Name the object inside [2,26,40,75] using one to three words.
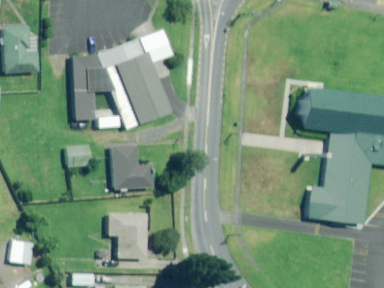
house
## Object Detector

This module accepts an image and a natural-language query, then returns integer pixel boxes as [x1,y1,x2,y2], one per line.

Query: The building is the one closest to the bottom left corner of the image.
[6,239,34,266]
